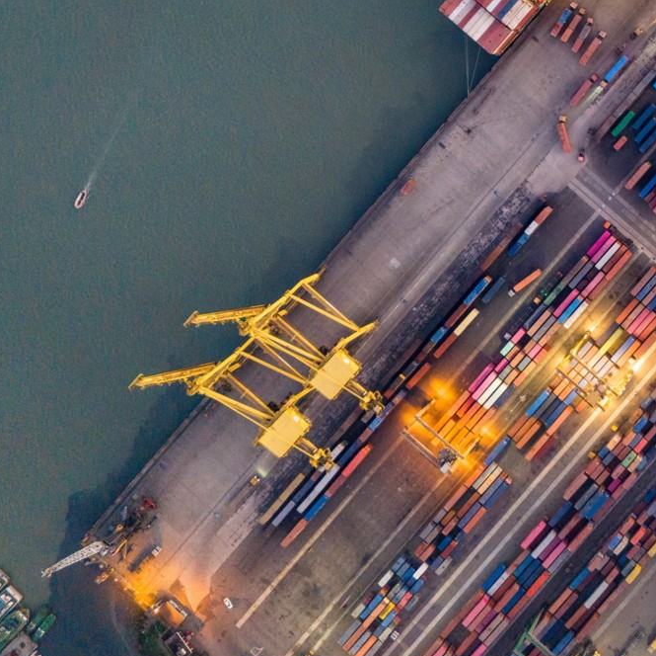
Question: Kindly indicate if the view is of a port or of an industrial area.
port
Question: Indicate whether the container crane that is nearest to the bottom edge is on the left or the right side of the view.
right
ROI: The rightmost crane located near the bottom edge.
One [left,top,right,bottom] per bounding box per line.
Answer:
[510,600,587,656]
